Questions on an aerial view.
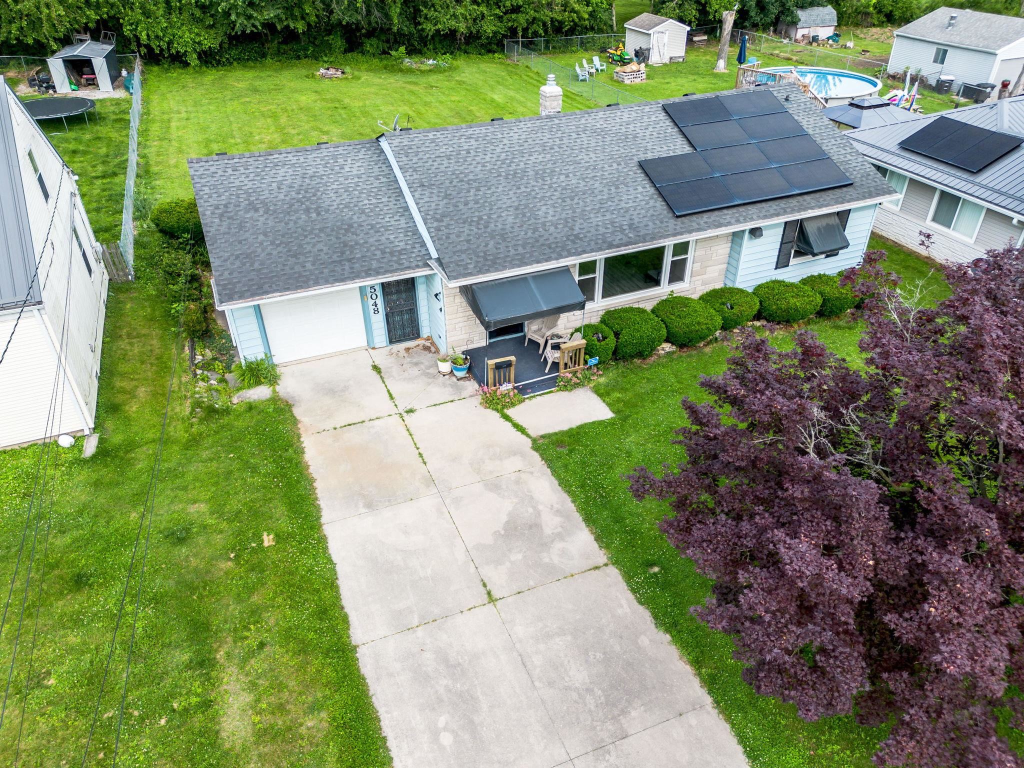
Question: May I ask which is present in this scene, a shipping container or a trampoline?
trampoline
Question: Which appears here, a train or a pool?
pool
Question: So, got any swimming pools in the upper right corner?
Yes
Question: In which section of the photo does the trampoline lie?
top left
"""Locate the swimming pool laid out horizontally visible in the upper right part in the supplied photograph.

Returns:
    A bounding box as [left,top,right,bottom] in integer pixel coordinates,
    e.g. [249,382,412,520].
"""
[747,64,885,107]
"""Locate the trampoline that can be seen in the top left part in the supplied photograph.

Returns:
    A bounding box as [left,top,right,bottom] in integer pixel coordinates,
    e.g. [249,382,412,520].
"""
[38,97,99,132]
